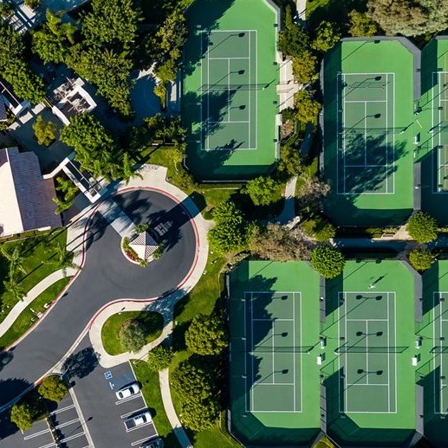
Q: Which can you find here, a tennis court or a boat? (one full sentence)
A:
The image shows a tennis court.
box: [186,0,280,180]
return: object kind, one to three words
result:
tennis court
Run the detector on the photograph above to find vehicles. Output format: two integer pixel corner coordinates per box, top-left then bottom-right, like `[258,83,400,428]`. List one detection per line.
[139,438,164,448]
[116,383,140,399]
[124,412,152,429]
